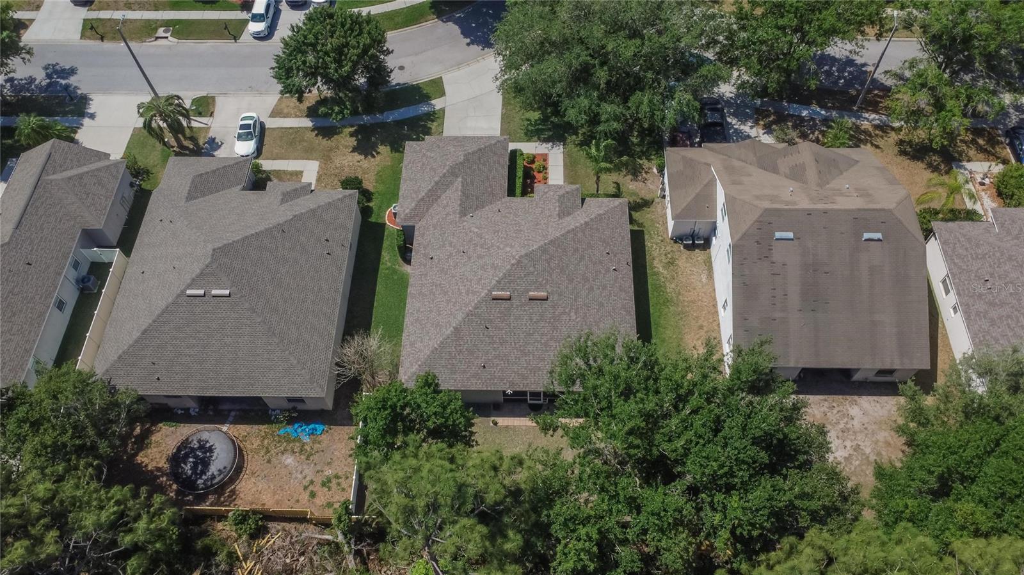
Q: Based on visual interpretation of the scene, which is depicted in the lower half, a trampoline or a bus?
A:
trampoline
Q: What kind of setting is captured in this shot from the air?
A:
residential area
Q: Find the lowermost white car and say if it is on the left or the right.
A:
left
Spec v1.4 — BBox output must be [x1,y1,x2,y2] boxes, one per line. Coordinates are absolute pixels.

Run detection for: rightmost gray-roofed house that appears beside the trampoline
[86,156,360,408]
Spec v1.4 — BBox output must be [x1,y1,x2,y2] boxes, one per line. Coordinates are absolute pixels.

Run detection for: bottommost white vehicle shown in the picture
[232,111,263,160]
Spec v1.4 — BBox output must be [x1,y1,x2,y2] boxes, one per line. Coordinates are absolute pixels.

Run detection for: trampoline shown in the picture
[170,425,243,492]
